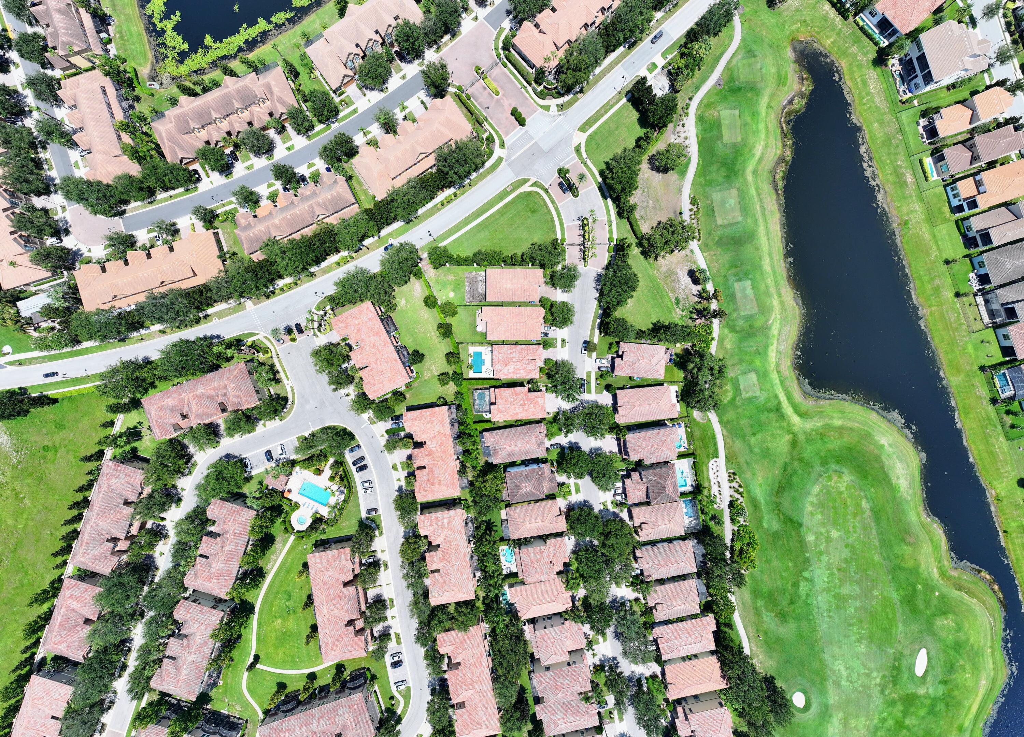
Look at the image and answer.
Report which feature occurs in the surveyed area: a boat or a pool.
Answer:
pool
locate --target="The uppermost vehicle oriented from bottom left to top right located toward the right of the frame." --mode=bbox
[650,30,664,44]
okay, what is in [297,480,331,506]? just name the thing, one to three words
swimming pool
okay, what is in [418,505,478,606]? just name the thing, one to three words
building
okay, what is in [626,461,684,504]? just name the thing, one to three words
house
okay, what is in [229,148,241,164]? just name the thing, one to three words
vehicle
